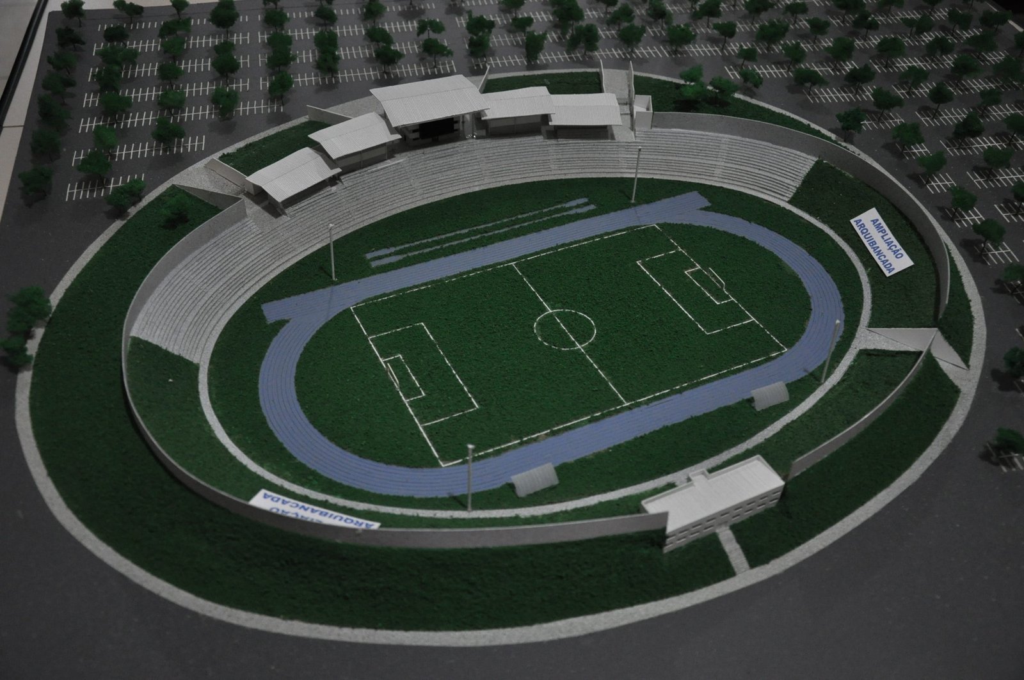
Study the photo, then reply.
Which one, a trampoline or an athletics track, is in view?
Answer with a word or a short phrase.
athletics track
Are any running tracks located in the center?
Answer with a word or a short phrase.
Yes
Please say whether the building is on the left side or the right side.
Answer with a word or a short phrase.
right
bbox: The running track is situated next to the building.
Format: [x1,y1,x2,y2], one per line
[257,190,845,499]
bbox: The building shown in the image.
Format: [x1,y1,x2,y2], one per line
[640,454,787,551]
